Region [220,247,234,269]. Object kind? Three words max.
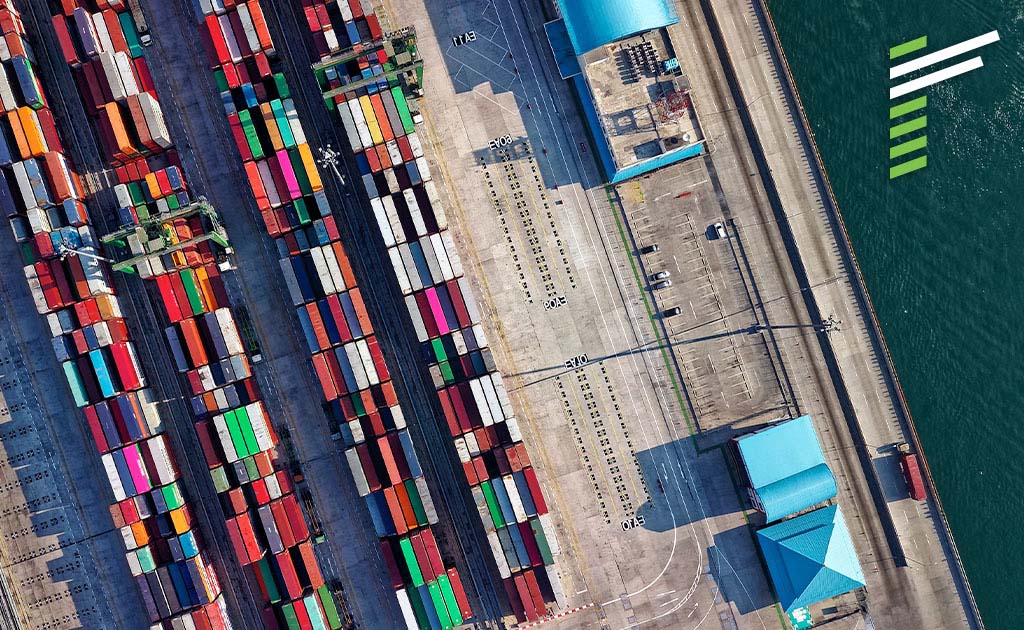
vehicle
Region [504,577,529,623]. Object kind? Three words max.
shipping container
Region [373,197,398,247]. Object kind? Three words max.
shipping container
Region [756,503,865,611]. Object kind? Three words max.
building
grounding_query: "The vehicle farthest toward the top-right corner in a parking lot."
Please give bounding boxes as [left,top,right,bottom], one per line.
[715,222,728,240]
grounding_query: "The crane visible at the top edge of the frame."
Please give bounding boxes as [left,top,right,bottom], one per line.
[311,27,432,132]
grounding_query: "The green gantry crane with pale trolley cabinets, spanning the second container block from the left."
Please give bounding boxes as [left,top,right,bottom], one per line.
[98,199,241,283]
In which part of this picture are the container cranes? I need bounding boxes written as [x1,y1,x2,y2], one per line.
[98,199,241,283]
[311,27,432,132]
